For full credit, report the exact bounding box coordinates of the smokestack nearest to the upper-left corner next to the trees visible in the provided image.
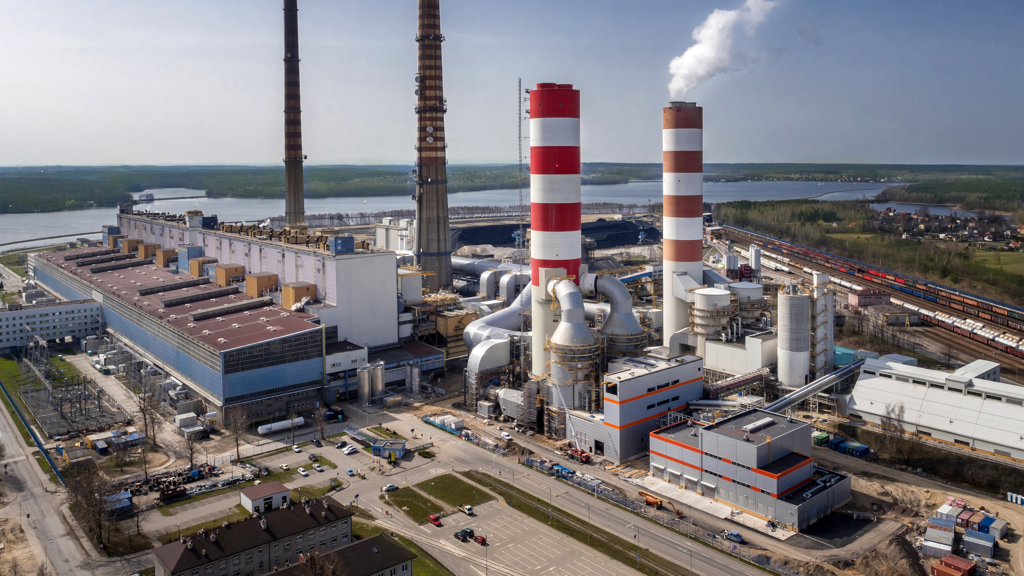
[284,0,308,227]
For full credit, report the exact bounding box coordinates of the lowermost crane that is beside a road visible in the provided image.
[551,373,591,460]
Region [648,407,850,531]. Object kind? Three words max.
building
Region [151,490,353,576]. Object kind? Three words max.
house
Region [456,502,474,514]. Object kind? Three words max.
vehicle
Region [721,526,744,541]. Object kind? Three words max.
vehicle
